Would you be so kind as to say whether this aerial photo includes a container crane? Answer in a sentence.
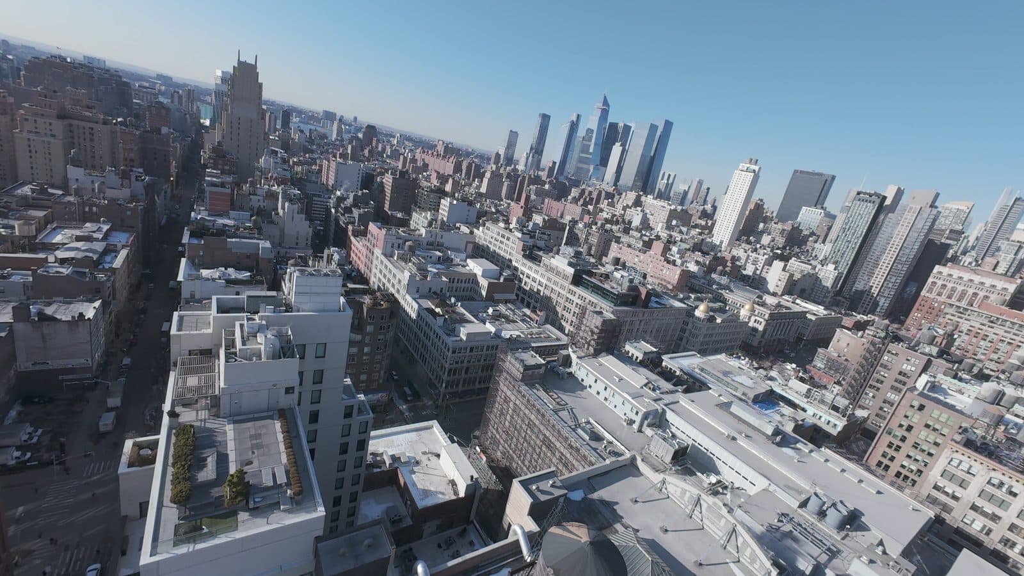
No, the photo shows no container crane.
